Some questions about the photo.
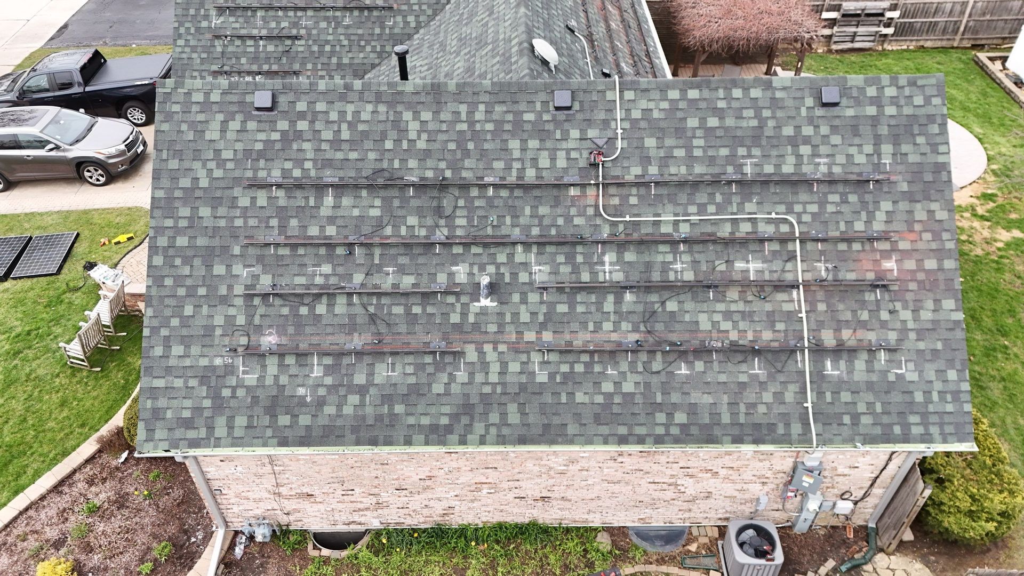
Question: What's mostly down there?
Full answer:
The bulk of the photo consists of buildings.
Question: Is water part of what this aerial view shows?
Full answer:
No, there is no water in the image.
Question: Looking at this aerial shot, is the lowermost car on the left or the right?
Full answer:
You can find the lowermost car on the left side of the picture.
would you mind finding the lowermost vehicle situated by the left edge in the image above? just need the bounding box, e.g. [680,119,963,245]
[0,103,148,190]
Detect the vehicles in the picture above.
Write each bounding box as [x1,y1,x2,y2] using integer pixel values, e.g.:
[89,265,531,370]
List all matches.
[0,47,172,128]
[0,103,148,190]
